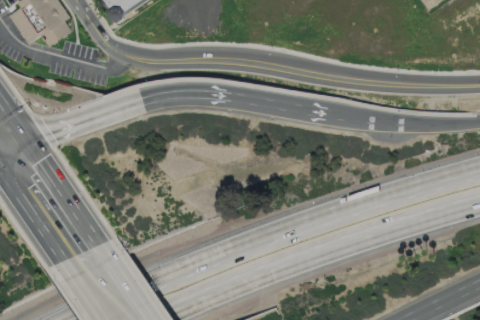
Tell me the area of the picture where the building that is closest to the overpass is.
top left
